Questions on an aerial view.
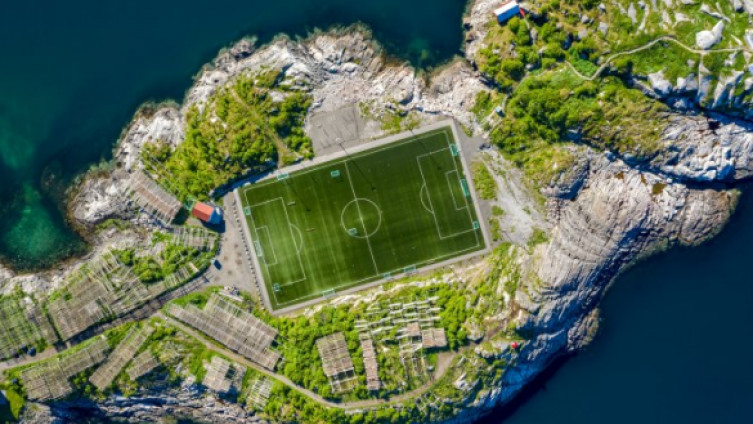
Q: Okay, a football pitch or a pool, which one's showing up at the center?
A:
football pitch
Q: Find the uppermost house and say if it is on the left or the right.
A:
right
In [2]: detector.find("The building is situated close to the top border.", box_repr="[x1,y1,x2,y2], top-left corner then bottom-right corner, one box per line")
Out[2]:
[492,2,524,25]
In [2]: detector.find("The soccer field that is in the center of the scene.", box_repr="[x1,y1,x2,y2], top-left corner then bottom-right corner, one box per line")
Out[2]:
[235,119,489,316]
